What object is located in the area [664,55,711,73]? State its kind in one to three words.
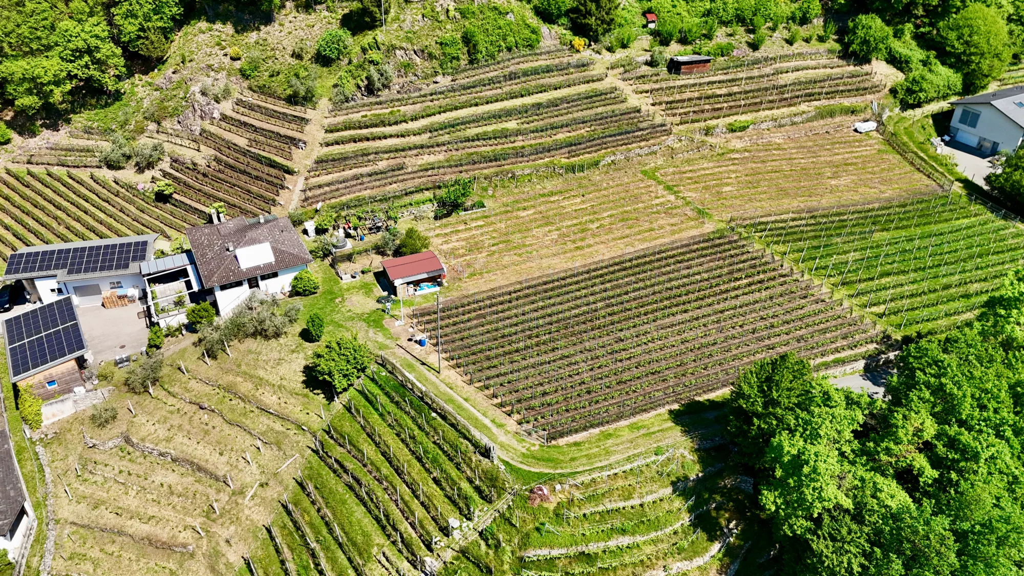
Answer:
building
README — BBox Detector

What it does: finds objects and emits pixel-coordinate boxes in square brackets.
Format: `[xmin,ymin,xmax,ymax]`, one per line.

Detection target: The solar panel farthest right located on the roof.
[235,241,274,270]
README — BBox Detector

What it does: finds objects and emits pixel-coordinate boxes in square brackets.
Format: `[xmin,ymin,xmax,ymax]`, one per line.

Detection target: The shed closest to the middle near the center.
[377,252,450,303]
